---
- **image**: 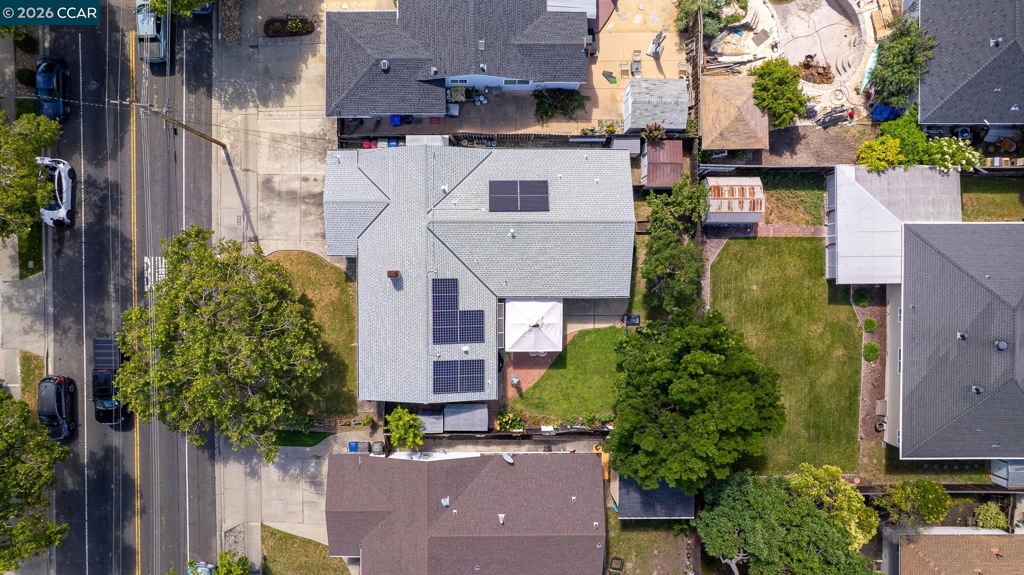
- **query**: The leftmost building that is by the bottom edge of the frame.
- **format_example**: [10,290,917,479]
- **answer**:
[323,449,608,575]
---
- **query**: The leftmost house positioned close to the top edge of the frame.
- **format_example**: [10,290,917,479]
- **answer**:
[324,0,596,120]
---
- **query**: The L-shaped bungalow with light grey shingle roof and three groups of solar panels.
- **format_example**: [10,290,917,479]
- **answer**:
[320,144,634,405]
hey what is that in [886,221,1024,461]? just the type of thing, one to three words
house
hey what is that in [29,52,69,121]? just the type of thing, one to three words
car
